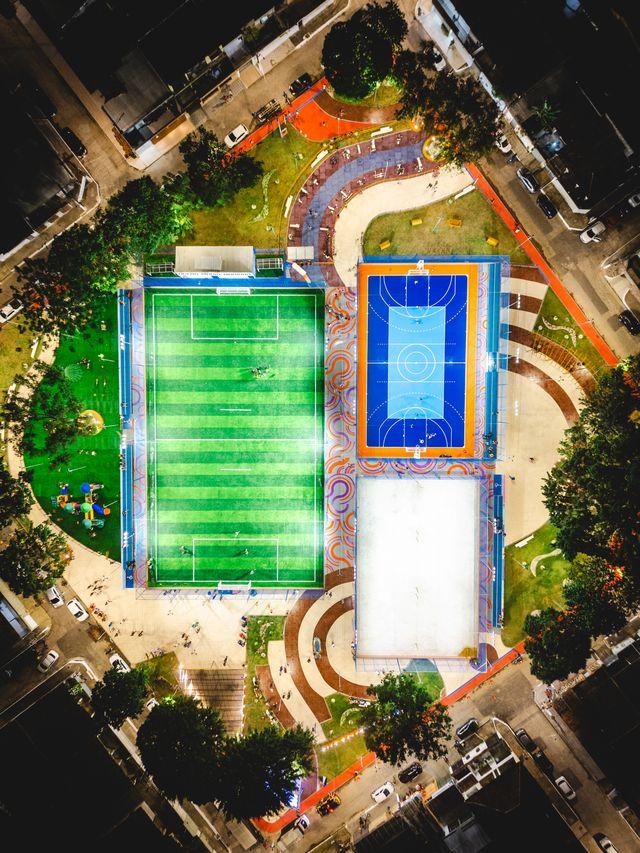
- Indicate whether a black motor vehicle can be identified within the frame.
Yes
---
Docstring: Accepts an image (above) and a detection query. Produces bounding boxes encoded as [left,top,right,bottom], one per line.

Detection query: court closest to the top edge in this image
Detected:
[358,264,478,458]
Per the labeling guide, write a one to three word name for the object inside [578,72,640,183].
house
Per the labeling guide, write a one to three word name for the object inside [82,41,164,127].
house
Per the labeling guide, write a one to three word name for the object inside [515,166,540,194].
car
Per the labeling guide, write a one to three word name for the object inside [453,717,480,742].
car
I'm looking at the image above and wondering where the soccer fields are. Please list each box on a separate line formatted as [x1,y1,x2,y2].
[145,288,325,589]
